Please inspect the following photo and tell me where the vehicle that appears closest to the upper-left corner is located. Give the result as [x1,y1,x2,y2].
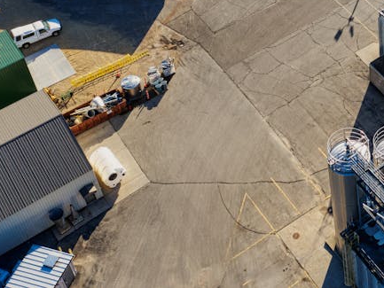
[8,22,63,50]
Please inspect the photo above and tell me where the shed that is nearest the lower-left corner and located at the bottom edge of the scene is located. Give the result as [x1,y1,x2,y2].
[6,246,80,288]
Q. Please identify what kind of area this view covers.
industrial area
